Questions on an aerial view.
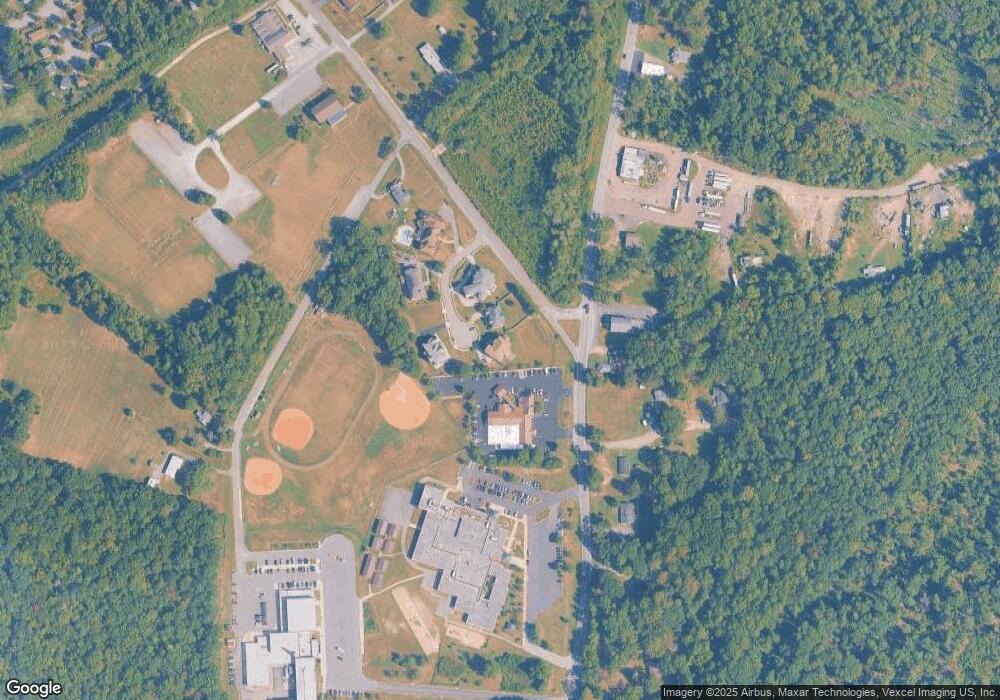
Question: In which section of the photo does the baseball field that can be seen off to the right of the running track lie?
center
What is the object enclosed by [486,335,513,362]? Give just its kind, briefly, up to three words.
house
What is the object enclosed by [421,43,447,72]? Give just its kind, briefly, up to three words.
house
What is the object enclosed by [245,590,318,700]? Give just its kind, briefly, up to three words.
building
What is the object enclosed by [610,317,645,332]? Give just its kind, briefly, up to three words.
building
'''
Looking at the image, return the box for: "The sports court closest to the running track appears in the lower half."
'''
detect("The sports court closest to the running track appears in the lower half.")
[381,486,411,527]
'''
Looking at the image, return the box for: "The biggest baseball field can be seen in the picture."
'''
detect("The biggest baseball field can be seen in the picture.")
[380,374,430,430]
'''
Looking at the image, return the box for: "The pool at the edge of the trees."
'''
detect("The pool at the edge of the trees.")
[396,226,412,243]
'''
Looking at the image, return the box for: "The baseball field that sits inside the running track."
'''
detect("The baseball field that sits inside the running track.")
[271,409,313,449]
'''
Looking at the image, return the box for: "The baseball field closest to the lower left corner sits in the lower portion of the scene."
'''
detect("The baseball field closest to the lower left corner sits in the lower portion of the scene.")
[243,456,282,495]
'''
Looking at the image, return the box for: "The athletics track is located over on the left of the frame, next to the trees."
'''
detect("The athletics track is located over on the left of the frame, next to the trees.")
[267,329,380,470]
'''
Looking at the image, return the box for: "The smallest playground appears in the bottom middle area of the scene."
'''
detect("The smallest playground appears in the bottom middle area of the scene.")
[446,625,488,649]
